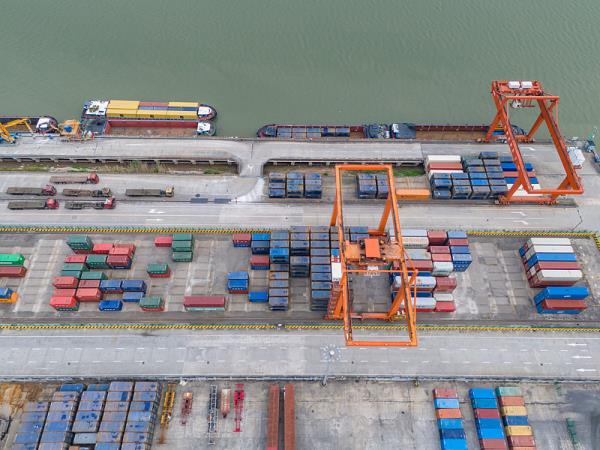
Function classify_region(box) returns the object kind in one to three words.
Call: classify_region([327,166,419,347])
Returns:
container crane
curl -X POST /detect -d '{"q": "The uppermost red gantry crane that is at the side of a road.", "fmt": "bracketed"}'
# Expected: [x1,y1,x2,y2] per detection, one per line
[479,78,585,204]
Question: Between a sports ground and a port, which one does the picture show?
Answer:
port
